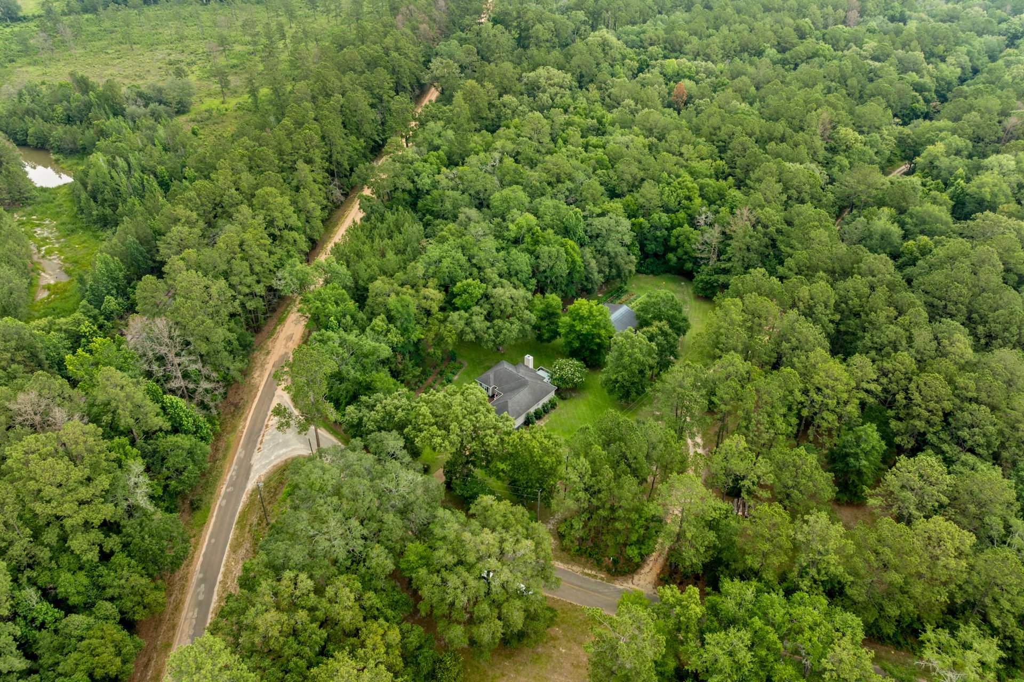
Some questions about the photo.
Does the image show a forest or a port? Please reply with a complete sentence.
The picture captures a forest.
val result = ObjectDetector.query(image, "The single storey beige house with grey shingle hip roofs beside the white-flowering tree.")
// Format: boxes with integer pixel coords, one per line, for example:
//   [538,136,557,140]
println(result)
[475,352,563,428]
